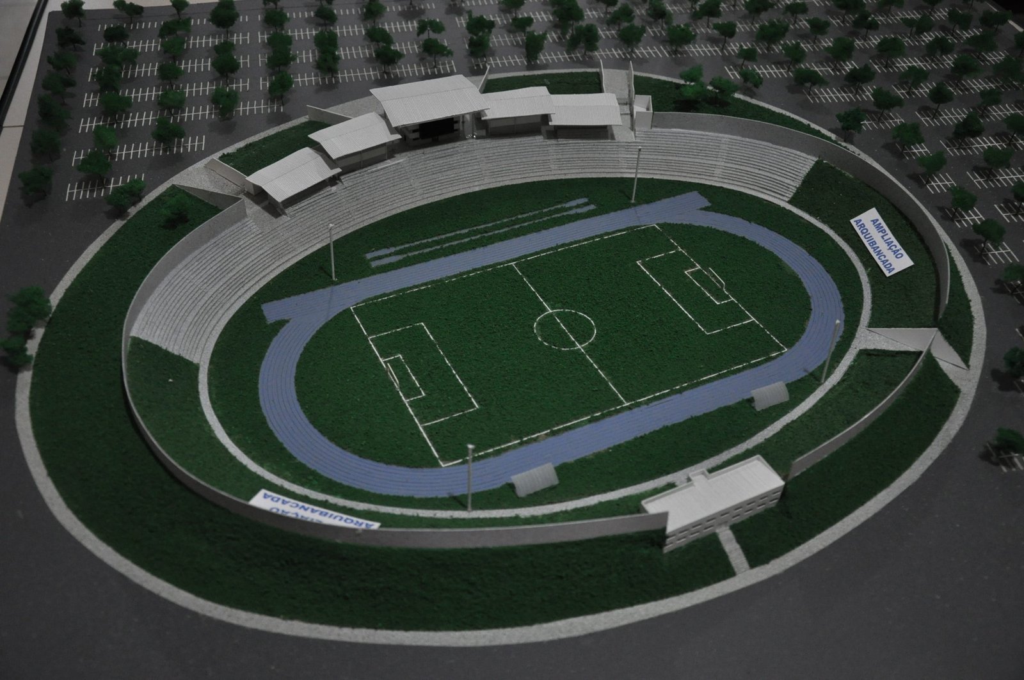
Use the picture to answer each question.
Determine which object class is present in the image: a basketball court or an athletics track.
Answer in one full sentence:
I can see an athletics track in this picture.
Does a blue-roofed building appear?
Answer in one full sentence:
No, there isn't any blue-roofed building down there.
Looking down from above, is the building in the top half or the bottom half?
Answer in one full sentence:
The bottom half of the photo is where the building is.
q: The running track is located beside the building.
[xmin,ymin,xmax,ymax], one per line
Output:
[257,190,845,499]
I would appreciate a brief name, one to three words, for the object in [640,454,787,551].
building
